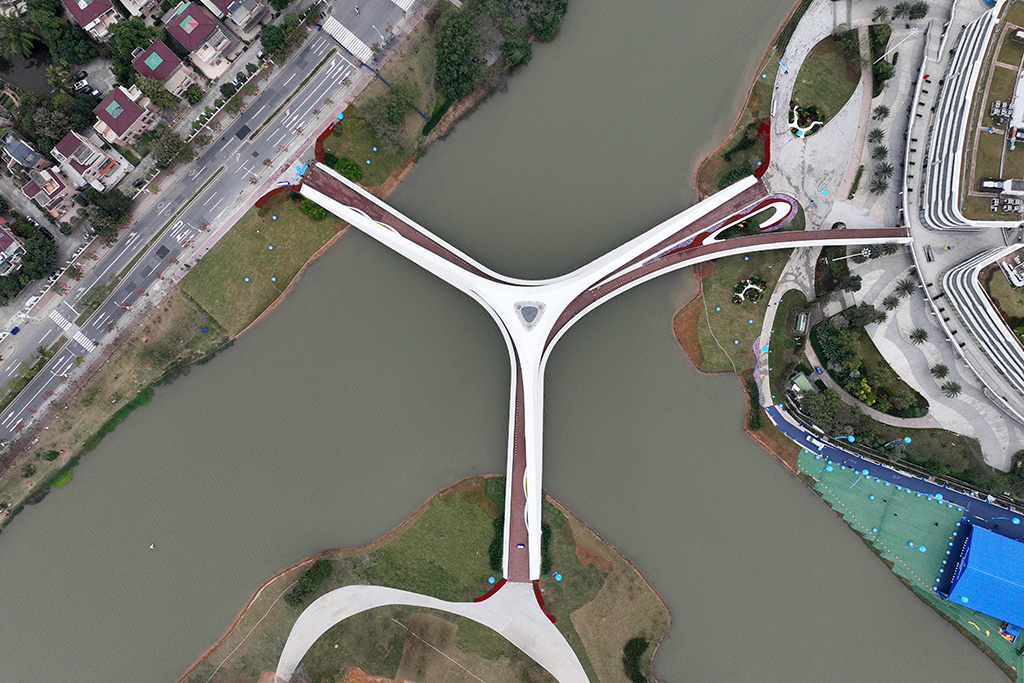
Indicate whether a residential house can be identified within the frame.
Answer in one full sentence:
Yes, there's a residential house down there.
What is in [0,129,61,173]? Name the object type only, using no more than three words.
house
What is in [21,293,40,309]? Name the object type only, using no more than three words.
vehicle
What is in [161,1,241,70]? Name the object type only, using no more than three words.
house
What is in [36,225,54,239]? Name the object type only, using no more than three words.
car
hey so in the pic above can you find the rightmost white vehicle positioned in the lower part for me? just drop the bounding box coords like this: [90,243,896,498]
[807,435,827,450]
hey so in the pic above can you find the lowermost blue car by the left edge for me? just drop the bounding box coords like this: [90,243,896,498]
[7,325,21,337]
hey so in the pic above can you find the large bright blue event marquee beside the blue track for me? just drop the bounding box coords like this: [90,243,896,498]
[939,521,1024,626]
